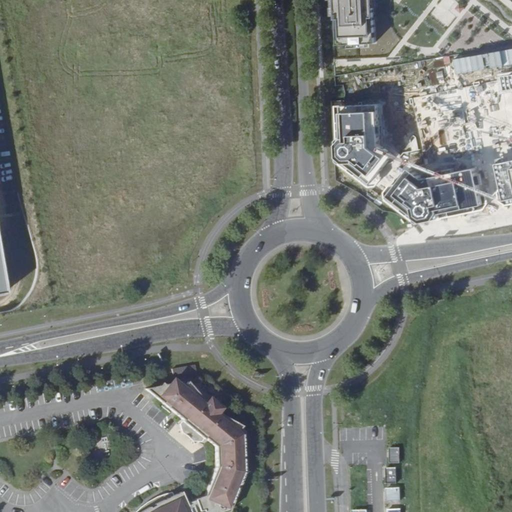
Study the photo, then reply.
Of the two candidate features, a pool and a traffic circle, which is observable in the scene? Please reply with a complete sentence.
Of the two, only a traffic circle appears.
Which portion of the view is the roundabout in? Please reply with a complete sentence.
The roundabout is in the center part of the image.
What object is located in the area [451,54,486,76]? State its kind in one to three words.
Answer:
shed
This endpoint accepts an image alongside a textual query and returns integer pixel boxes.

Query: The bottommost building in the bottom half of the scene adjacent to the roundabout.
[146,378,248,508]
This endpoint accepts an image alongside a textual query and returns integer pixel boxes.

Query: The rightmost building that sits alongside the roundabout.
[382,169,486,223]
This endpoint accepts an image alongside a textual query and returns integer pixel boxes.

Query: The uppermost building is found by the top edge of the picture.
[326,0,376,47]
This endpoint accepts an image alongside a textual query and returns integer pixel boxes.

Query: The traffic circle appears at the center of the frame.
[228,218,374,365]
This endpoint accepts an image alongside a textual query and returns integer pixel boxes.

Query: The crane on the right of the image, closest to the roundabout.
[370,145,501,205]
